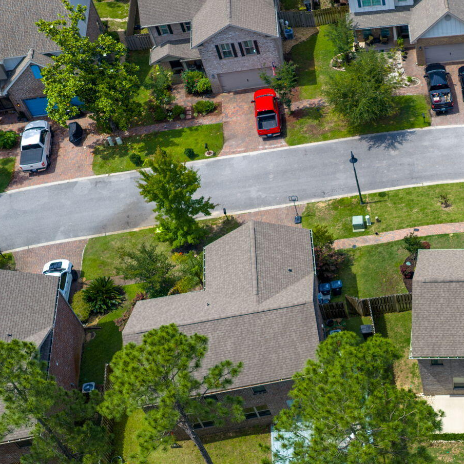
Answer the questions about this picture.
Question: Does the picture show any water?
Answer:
No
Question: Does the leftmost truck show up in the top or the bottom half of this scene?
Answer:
top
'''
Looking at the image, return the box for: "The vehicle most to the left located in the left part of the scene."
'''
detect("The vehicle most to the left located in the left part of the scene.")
[20,120,57,172]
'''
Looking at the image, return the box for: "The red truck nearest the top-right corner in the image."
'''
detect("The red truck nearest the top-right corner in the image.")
[252,89,282,138]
